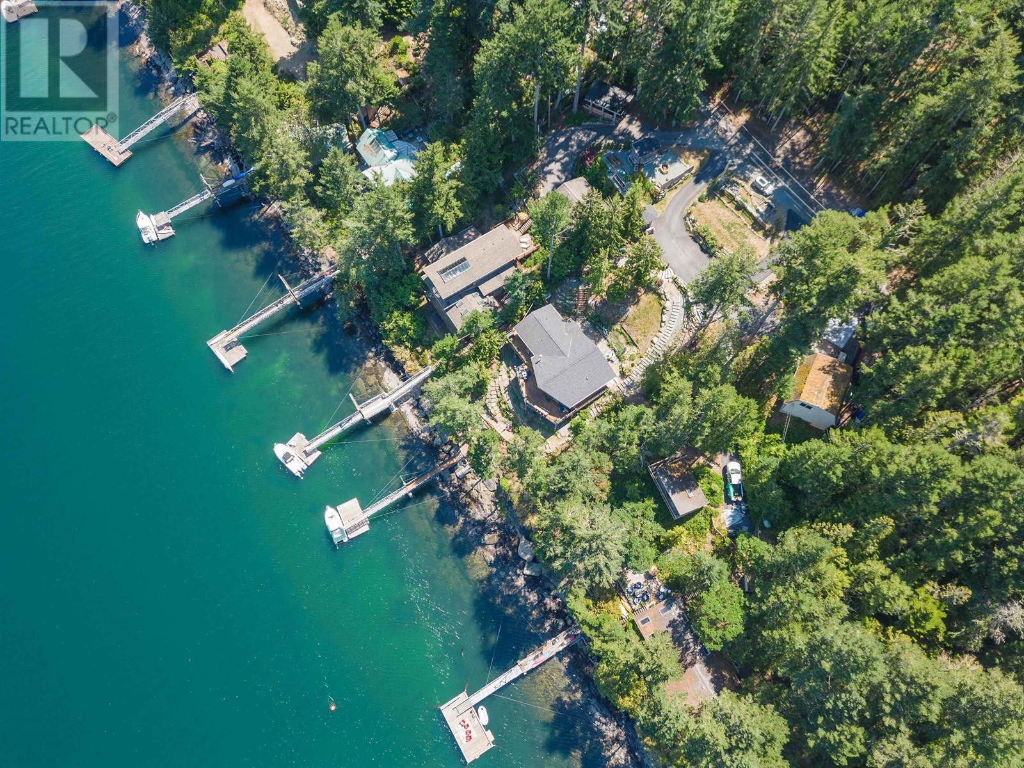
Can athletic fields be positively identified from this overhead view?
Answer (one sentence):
No, I can see no athletic field in this picture.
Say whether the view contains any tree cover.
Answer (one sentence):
Yes, the picture does contain tree cover.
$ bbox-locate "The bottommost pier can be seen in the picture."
[440,691,494,764]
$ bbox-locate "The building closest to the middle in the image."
[509,304,616,429]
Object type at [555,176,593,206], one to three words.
shed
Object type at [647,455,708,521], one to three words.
house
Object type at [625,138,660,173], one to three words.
building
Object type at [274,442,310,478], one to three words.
boat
